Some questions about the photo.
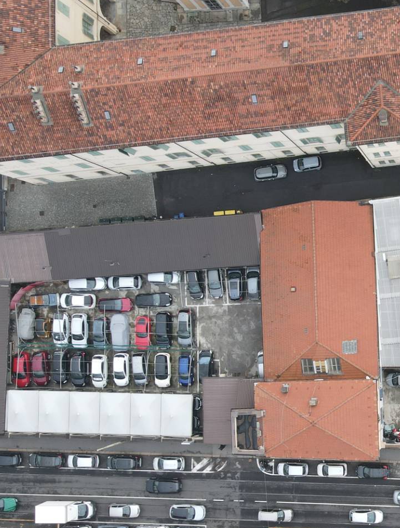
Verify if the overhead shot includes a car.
Yes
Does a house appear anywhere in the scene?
Yes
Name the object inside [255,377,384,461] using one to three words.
house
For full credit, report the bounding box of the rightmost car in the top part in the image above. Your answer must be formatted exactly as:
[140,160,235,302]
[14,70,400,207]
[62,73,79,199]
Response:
[293,157,322,173]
